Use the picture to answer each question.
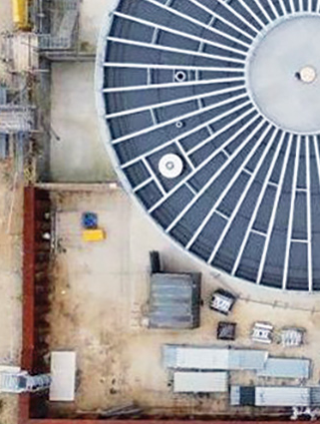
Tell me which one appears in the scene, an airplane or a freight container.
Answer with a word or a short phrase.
freight container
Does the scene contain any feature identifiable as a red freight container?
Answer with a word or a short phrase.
No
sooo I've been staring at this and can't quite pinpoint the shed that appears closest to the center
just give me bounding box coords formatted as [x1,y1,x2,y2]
[146,269,201,331]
